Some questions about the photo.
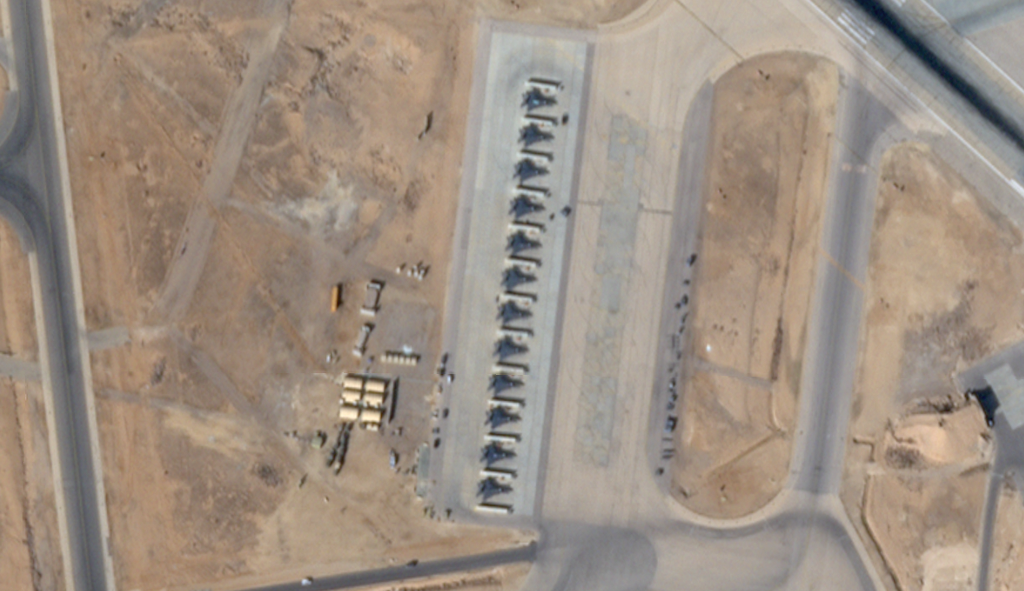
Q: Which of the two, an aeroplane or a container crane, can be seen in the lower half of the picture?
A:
aeroplane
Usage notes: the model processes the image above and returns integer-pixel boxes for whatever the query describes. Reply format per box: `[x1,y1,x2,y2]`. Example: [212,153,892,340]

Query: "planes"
[493,336,528,360]
[501,266,536,290]
[476,477,511,500]
[518,124,553,148]
[488,371,523,395]
[508,195,543,219]
[505,232,540,256]
[513,159,547,182]
[496,301,530,325]
[480,442,515,465]
[521,89,555,113]
[485,406,520,429]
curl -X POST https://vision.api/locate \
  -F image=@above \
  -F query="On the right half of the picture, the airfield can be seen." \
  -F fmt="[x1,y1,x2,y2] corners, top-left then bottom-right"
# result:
[424,0,1024,591]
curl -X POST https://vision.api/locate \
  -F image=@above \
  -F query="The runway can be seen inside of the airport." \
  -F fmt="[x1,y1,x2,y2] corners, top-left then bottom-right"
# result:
[804,0,1024,197]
